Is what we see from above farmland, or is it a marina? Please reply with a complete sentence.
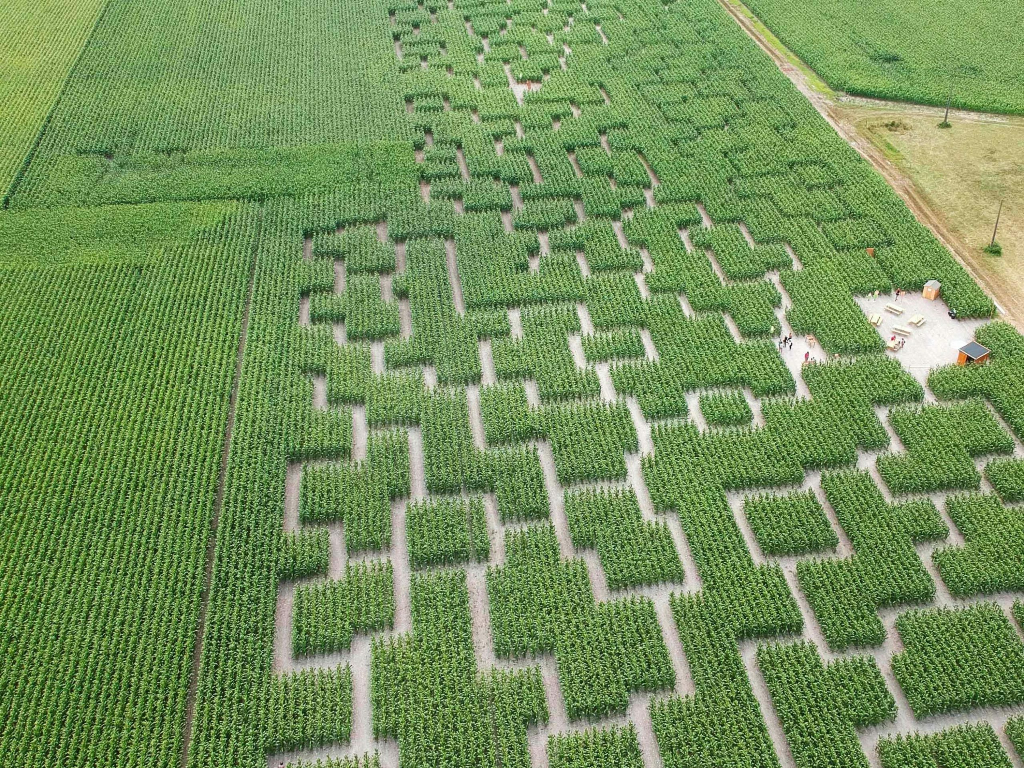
It's farmland.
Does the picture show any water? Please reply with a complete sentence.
No, the scene doesn't show any water.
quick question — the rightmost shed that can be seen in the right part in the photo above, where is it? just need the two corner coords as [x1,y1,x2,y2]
[957,340,992,374]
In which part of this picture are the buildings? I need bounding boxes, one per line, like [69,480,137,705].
[957,340,992,374]
[923,278,942,301]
